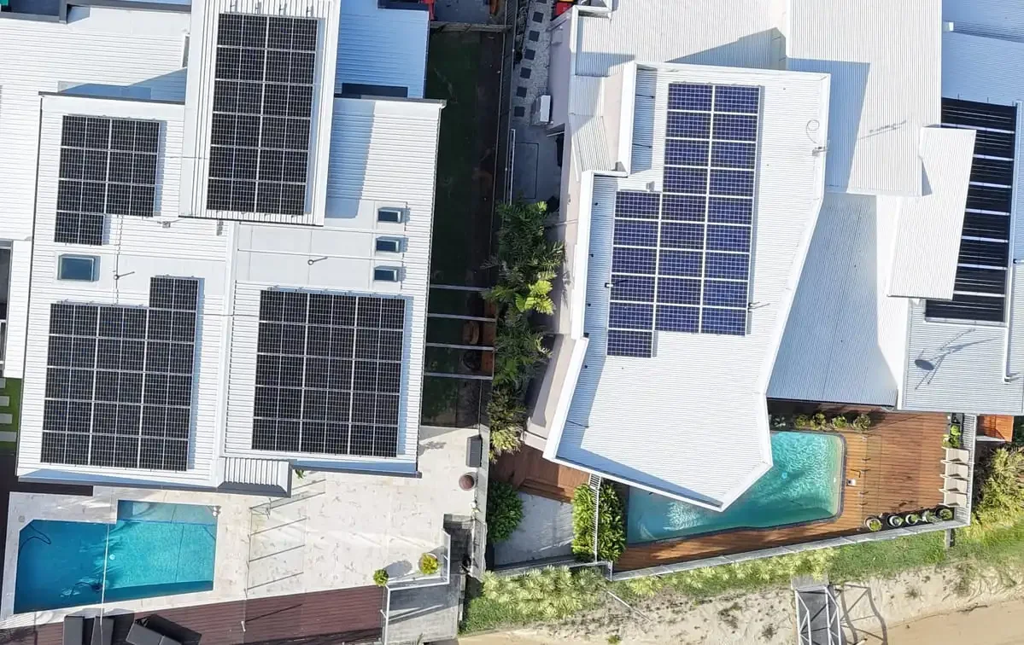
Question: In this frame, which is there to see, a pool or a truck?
pool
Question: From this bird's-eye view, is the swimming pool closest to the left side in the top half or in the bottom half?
bottom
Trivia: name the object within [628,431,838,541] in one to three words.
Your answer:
swimming pool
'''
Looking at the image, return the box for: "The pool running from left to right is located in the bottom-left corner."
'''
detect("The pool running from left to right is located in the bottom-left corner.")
[21,500,218,608]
